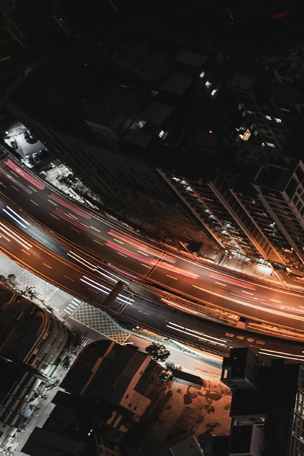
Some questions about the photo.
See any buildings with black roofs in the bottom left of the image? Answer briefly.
Yes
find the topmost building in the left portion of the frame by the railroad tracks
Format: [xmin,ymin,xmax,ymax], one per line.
[2,40,225,218]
